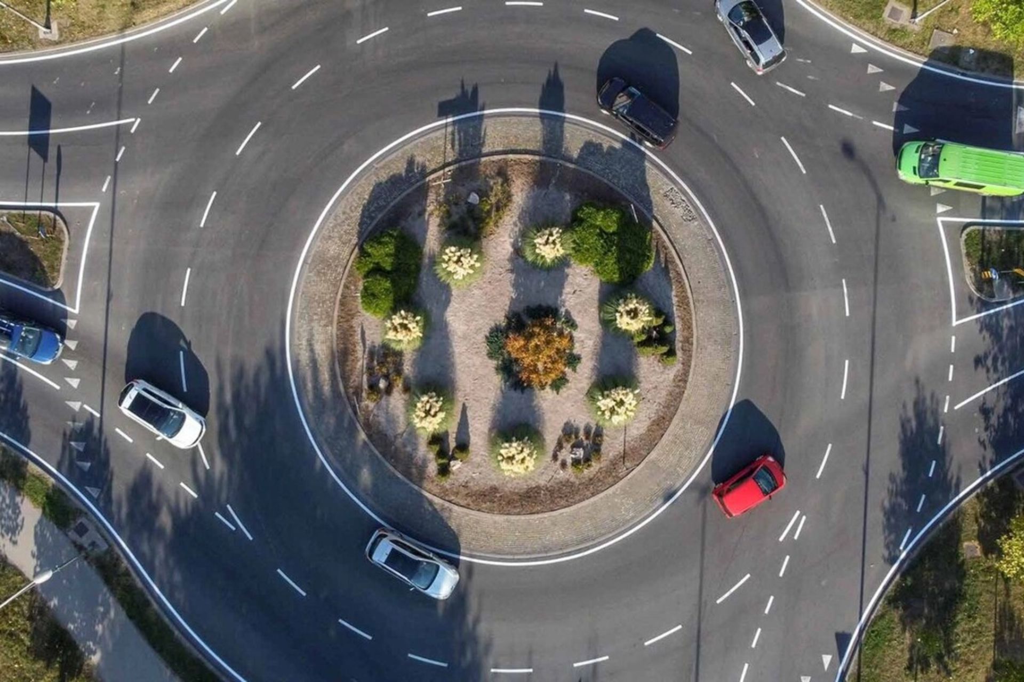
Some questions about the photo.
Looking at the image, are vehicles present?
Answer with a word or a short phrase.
Yes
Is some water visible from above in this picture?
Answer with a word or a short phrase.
No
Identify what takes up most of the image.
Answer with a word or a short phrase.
paved ground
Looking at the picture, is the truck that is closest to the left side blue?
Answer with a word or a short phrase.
Yes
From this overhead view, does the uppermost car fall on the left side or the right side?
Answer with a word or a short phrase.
right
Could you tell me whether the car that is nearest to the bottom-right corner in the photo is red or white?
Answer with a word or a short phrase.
red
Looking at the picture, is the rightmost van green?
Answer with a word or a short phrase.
Yes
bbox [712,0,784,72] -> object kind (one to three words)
car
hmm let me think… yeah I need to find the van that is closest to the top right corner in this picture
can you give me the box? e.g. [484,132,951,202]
[899,137,1024,194]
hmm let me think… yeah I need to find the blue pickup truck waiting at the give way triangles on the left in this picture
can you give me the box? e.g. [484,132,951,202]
[0,309,65,359]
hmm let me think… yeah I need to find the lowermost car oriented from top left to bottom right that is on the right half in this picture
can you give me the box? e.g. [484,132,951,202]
[598,82,680,150]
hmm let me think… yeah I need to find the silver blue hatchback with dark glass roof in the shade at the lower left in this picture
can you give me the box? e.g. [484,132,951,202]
[368,527,456,596]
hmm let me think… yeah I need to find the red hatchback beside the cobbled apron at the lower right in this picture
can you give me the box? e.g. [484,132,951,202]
[712,456,784,517]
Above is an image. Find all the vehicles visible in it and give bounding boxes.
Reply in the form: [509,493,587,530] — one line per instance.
[712,456,784,517]
[117,379,207,446]
[368,527,456,596]
[899,137,1024,194]
[598,82,680,150]
[0,309,65,359]
[712,0,784,72]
